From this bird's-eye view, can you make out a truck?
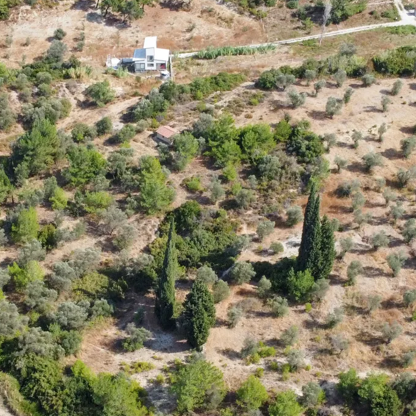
No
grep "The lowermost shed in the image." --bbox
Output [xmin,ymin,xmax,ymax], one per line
[154,125,182,146]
